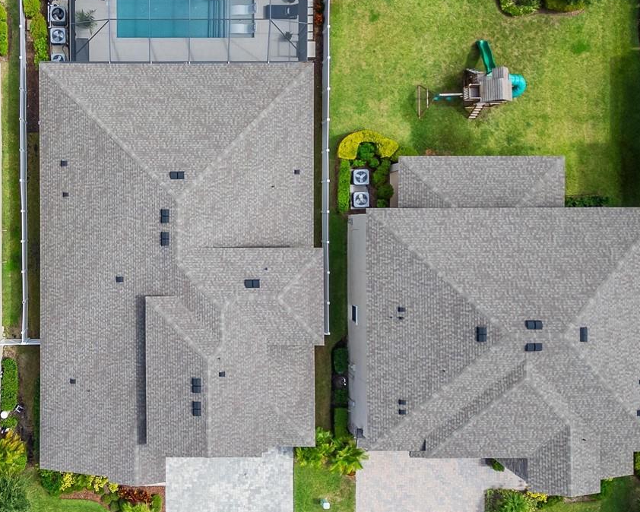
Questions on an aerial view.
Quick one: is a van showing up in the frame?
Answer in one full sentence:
No, the photo shows no van.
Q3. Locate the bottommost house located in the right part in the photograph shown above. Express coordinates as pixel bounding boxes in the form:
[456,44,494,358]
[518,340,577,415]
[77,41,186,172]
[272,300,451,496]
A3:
[349,154,640,498]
